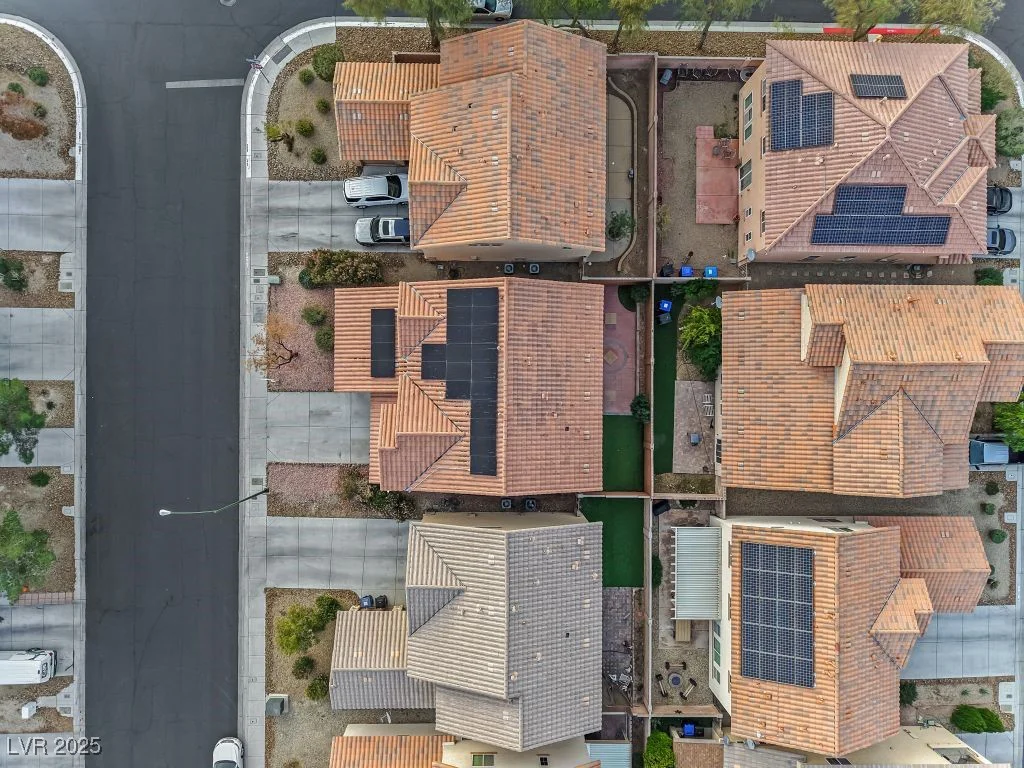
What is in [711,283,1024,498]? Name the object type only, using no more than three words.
house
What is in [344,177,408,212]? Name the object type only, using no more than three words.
car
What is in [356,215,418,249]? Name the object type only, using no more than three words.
car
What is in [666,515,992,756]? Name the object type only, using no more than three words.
house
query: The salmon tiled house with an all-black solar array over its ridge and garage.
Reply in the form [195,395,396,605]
[333,275,605,496]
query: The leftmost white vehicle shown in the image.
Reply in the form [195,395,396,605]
[0,647,56,684]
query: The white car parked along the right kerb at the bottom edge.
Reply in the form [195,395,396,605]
[212,735,248,768]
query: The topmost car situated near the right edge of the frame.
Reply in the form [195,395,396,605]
[987,185,1012,218]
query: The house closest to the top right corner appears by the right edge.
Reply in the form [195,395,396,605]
[740,38,998,272]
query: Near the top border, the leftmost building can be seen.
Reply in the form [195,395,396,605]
[334,18,607,262]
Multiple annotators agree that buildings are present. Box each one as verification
[666,515,992,756]
[334,18,607,262]
[711,283,1024,498]
[740,38,998,272]
[333,275,605,496]
[330,511,603,753]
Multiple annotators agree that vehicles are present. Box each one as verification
[356,215,418,249]
[344,177,408,212]
[987,185,1012,218]
[972,224,1016,257]
[212,735,248,768]
[0,647,56,684]
[969,437,1024,464]
[469,0,514,23]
